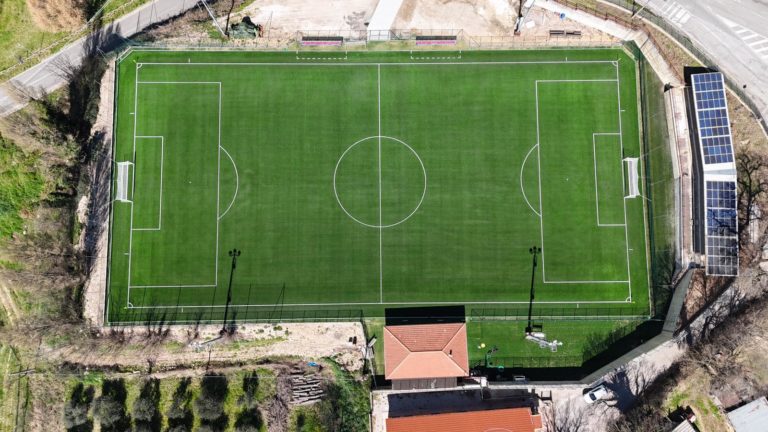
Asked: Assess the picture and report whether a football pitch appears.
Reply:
Yes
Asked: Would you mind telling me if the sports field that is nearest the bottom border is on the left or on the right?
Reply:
right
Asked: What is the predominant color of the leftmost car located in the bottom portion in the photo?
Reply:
white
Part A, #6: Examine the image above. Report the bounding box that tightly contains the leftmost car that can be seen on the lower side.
[584,386,608,406]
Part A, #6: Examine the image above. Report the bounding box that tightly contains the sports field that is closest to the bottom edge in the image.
[363,317,664,386]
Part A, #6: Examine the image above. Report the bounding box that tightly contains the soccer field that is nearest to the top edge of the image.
[107,47,653,323]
